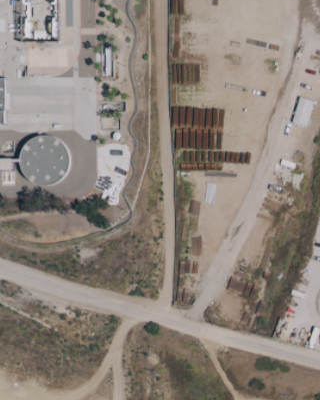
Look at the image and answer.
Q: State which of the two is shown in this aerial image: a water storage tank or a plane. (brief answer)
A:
water storage tank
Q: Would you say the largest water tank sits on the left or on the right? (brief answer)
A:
left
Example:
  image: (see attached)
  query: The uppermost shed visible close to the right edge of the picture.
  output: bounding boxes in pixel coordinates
[293,97,316,126]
